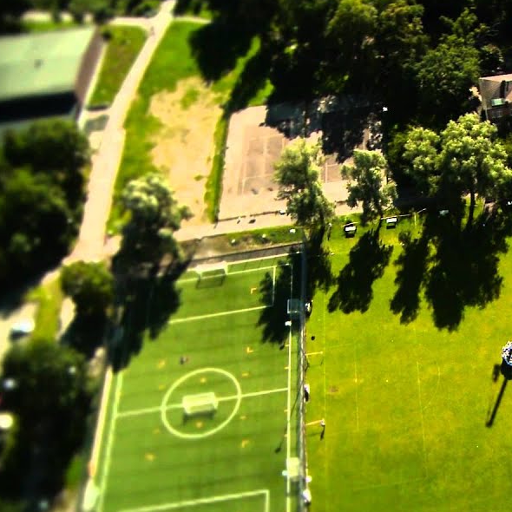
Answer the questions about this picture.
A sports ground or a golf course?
sports ground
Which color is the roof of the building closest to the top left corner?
green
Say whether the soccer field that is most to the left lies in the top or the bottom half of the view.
bottom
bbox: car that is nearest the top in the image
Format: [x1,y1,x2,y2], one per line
[10,319,36,334]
